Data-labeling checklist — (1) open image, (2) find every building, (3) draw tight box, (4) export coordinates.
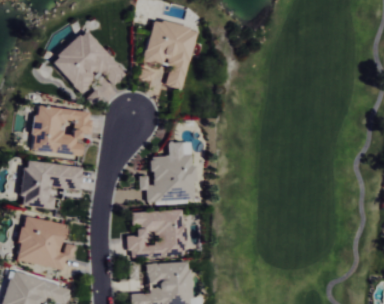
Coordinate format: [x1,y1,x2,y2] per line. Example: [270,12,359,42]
[54,32,125,94]
[126,212,186,258]
[138,20,197,90]
[18,162,82,210]
[132,263,204,304]
[3,272,71,304]
[16,216,76,270]
[140,141,198,206]
[30,106,91,154]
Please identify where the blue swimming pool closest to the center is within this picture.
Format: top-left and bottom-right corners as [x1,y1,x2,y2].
[181,130,204,153]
